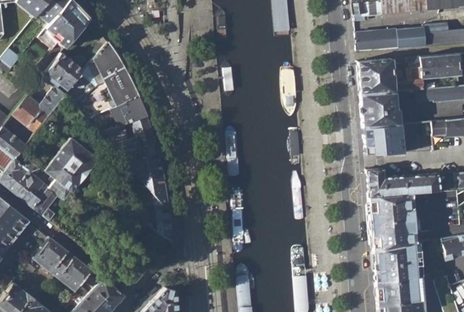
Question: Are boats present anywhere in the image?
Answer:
Yes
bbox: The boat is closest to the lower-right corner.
[292,242,310,312]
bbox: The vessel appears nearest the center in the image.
[226,122,241,176]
